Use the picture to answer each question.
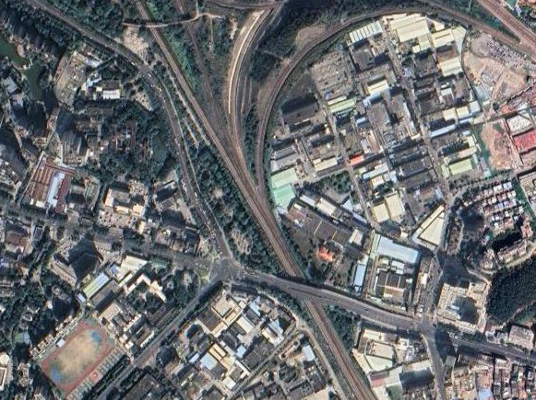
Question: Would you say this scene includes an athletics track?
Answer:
Yes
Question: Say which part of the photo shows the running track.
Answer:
bottom left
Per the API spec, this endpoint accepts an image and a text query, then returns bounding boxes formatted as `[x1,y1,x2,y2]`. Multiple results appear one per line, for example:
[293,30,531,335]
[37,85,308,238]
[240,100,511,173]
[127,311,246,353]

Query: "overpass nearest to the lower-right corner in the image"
[270,274,339,301]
